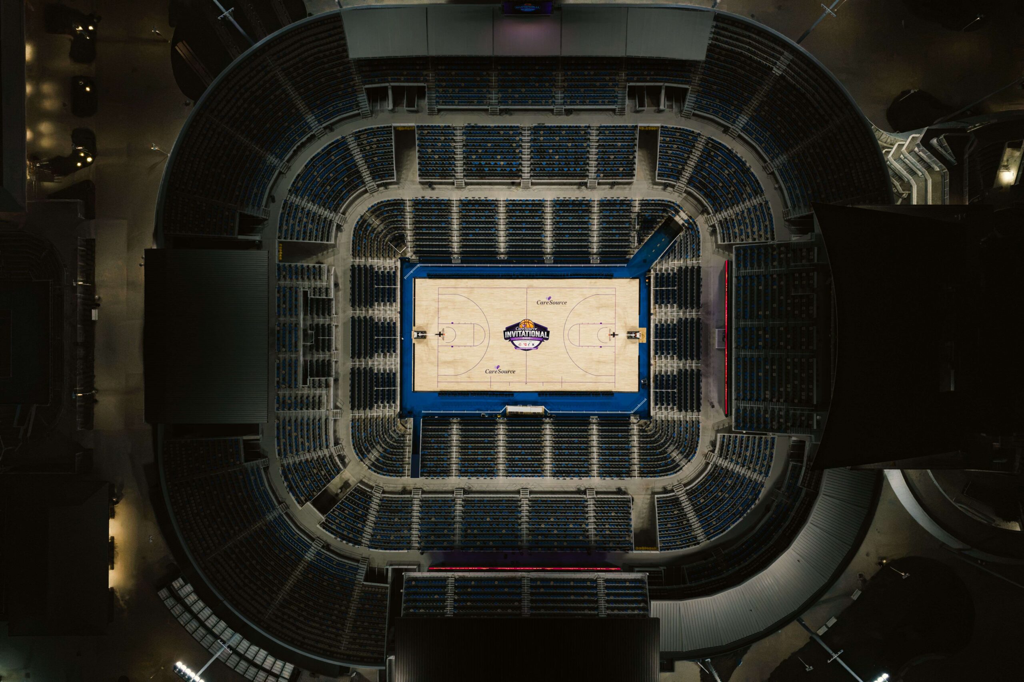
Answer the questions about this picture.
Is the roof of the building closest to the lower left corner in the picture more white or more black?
black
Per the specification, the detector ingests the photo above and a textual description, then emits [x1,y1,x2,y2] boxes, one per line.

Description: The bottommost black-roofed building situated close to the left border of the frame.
[0,476,115,637]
